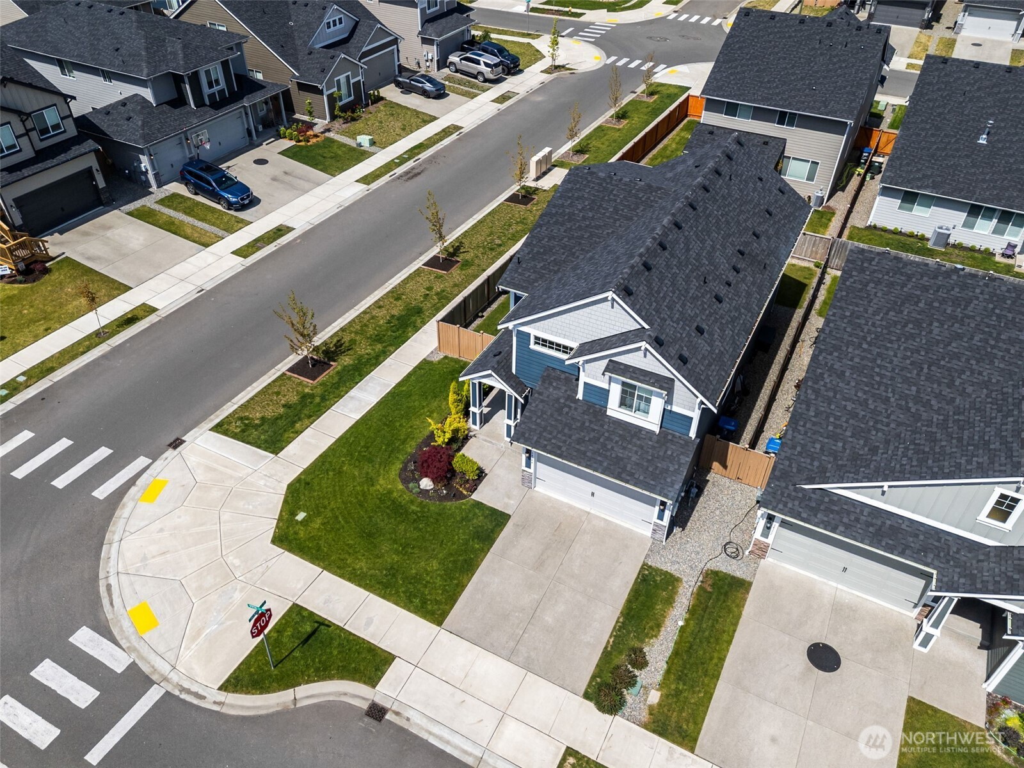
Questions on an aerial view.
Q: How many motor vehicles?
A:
4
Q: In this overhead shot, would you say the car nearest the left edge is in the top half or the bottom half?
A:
top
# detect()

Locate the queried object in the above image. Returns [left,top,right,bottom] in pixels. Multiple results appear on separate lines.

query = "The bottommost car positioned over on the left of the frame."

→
[181,155,252,205]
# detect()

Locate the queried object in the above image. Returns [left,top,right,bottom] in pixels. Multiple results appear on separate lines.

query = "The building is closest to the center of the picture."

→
[458,133,815,549]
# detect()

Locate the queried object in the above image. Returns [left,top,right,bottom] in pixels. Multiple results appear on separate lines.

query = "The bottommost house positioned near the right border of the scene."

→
[742,244,1024,705]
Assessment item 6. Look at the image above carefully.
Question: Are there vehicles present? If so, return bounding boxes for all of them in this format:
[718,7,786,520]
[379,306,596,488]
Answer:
[446,50,500,80]
[181,155,252,205]
[464,44,519,72]
[393,75,445,97]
